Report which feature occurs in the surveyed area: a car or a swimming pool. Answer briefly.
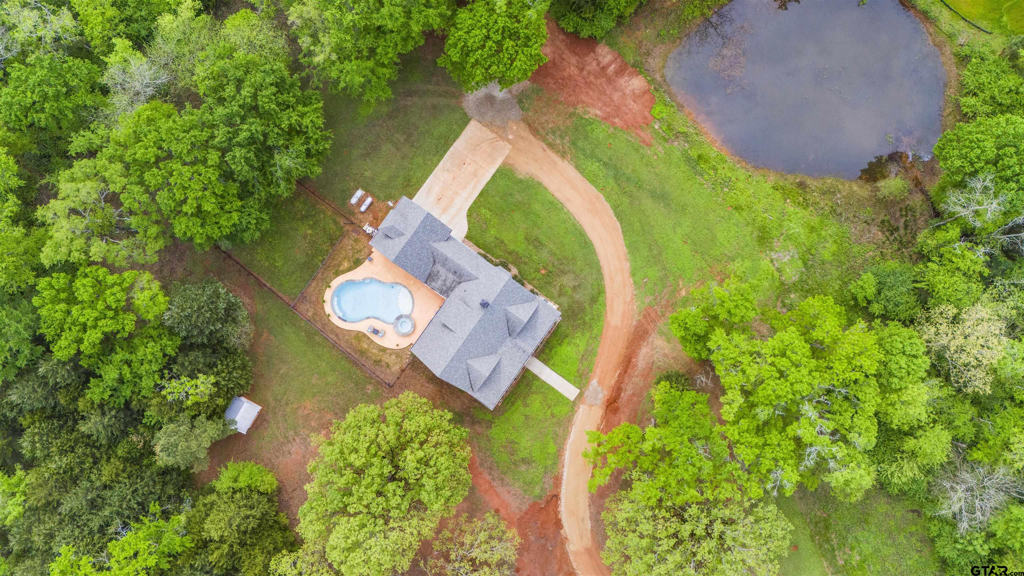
swimming pool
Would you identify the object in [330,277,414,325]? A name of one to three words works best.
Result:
swimming pool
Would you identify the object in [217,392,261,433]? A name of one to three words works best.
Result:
shed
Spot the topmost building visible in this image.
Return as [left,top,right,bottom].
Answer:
[368,195,563,410]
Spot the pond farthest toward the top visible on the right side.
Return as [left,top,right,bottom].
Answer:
[669,0,940,179]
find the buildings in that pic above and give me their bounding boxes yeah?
[368,195,563,410]
[217,392,261,433]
